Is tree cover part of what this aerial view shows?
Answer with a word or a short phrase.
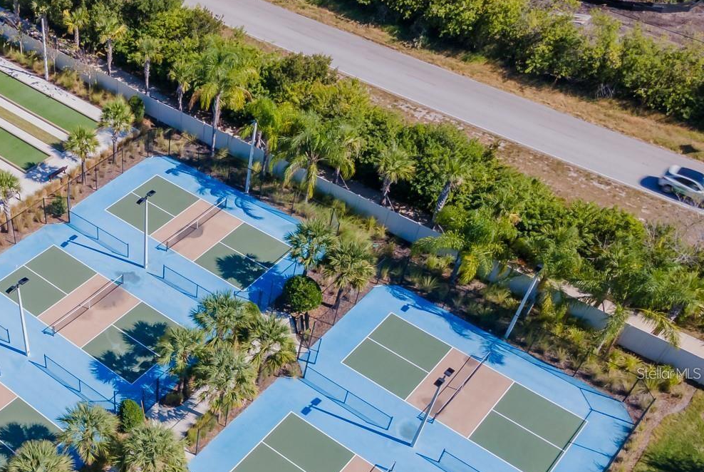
Yes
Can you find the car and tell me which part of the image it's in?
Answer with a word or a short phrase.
right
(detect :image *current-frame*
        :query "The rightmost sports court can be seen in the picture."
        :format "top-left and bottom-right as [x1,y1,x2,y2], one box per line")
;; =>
[343,314,585,472]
